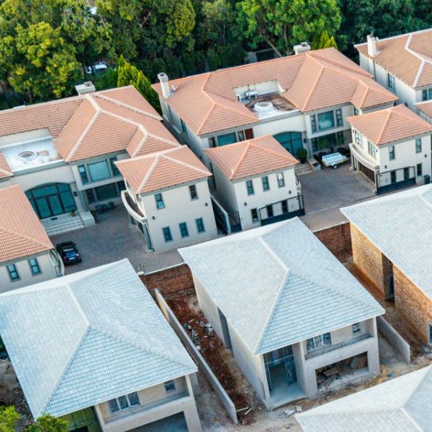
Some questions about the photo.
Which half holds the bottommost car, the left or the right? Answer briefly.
left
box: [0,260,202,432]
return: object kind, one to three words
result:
house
